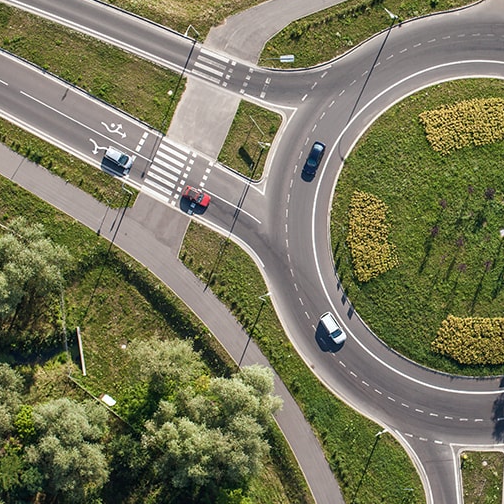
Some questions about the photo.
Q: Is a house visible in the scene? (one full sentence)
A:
No, I can see no house in this picture.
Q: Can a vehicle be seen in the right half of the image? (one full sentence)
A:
Yes, looking in the right half of the image, one can make out a vehicle.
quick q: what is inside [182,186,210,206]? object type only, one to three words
car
